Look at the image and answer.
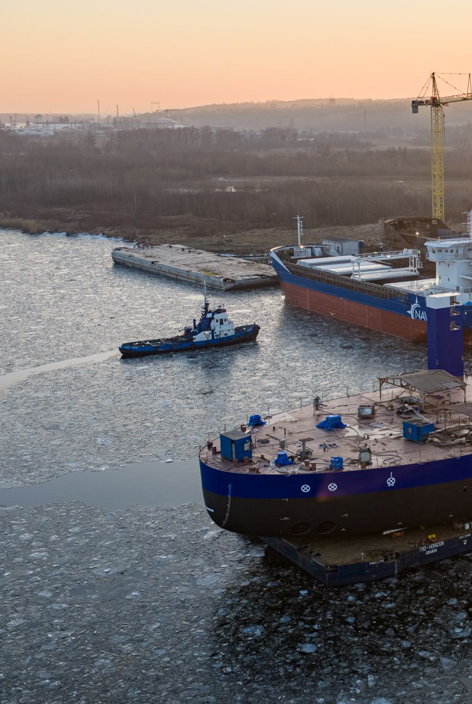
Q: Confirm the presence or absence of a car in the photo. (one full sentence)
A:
No, the photo shows no car.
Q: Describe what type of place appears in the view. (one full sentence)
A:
The picture captures a port.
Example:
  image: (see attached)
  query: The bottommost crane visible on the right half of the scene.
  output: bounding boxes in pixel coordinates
[346,247,410,282]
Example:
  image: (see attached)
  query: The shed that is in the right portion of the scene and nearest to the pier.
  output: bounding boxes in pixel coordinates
[326,238,360,255]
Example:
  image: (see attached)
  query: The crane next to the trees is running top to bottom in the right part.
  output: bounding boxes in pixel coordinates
[413,73,472,213]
